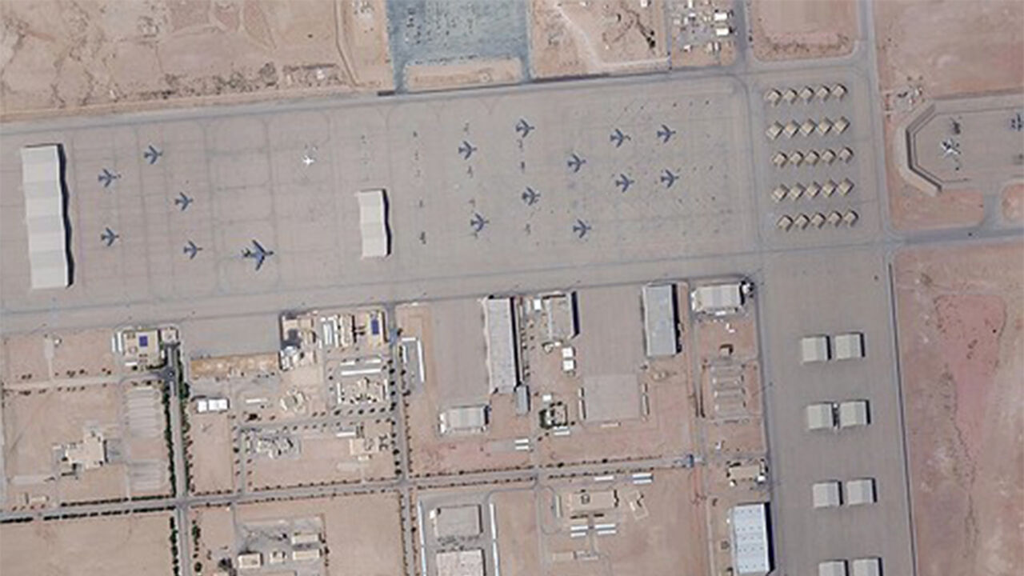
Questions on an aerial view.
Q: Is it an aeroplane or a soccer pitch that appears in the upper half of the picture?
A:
aeroplane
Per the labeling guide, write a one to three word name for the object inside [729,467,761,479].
building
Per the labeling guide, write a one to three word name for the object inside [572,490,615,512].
building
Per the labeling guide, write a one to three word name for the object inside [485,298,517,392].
hangar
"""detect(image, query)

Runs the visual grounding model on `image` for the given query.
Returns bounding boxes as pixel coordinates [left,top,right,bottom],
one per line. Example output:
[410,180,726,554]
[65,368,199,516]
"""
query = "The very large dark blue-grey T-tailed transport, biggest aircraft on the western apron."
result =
[240,239,272,270]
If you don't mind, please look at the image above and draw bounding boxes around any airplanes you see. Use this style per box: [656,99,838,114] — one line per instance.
[572,220,591,238]
[175,192,194,210]
[240,239,272,270]
[515,119,534,137]
[184,240,202,259]
[99,168,117,187]
[459,140,477,159]
[521,187,540,205]
[657,125,676,143]
[470,213,489,232]
[610,129,629,147]
[660,170,679,188]
[303,155,314,166]
[143,146,162,164]
[100,228,119,246]
[615,174,633,192]
[567,154,586,173]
